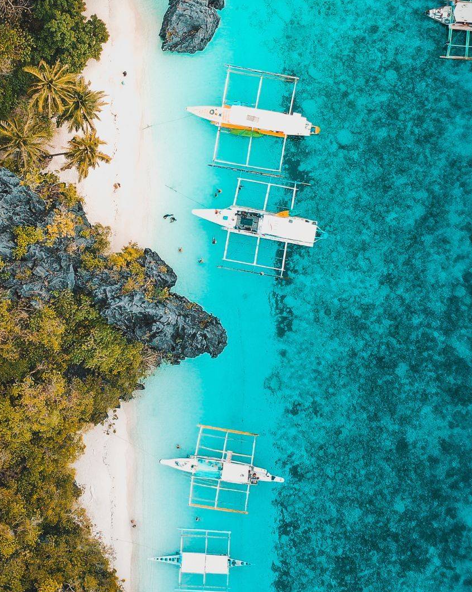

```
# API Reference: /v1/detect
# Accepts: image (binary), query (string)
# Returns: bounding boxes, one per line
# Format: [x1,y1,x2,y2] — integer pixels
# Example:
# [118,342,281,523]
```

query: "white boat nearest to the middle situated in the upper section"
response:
[191,170,327,279]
